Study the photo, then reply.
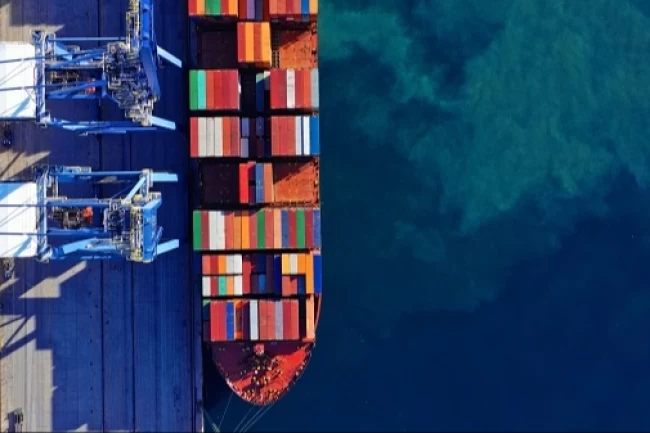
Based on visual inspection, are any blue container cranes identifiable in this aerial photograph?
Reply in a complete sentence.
Yes, I can see a blue container crane in this picture.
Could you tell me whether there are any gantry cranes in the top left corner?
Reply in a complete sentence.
Yes, a gantry crane can be seen in the top left corner.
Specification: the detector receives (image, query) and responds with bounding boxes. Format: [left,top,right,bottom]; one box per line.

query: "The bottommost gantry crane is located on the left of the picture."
[0,164,192,264]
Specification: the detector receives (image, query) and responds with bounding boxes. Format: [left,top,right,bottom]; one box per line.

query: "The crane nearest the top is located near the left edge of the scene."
[0,0,190,143]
